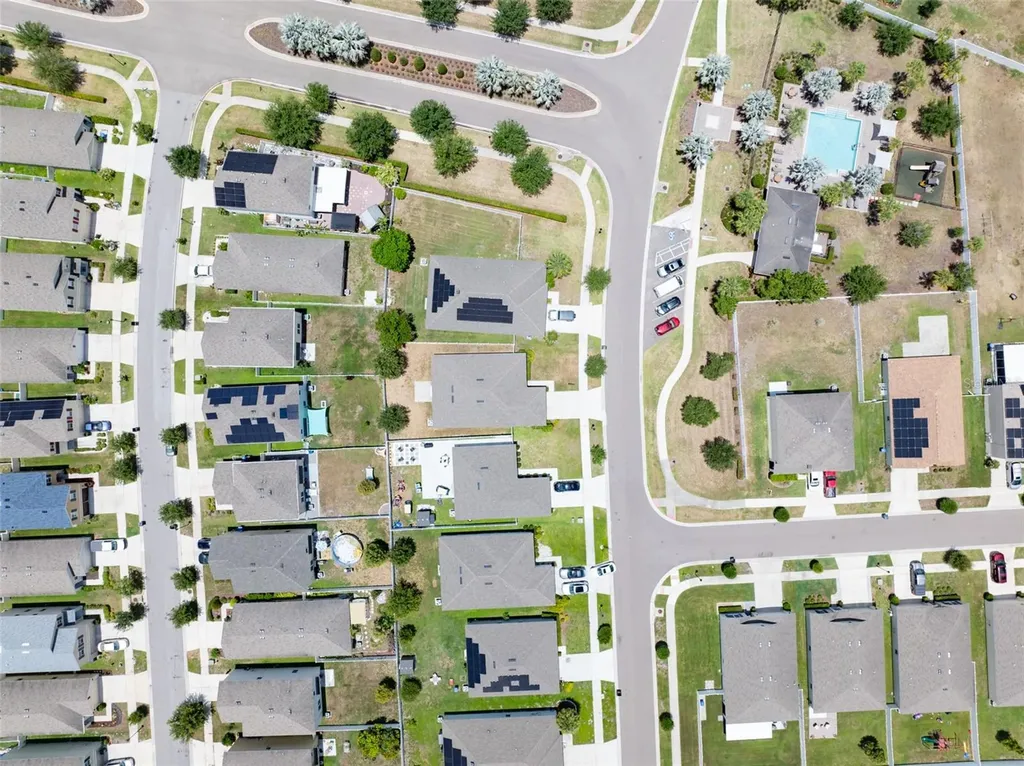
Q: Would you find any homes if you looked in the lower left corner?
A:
Yes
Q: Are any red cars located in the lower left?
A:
No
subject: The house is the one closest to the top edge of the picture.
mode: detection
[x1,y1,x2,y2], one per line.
[0,106,100,174]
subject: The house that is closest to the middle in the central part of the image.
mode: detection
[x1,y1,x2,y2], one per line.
[432,353,548,428]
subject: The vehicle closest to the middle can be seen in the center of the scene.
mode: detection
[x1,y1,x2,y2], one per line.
[549,308,575,322]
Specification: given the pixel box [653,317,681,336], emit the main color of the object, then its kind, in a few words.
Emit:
red car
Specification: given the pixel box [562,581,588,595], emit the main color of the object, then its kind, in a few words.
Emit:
white car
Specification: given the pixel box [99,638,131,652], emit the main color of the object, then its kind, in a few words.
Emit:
white car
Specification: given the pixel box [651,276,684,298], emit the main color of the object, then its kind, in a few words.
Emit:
white vehicle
